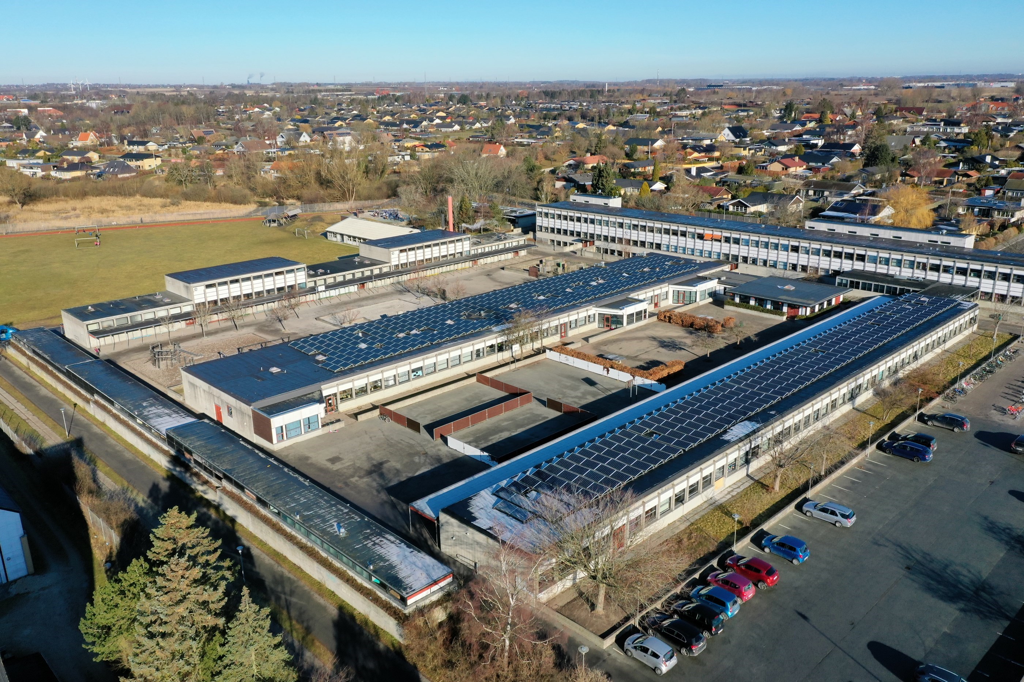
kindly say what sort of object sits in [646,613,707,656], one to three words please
car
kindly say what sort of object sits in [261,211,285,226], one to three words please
gazebo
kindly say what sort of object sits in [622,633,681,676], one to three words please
car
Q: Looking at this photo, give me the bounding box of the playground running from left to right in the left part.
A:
[125,334,282,395]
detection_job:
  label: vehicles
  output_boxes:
[726,553,784,589]
[892,430,942,454]
[762,534,814,566]
[923,412,973,434]
[707,568,760,602]
[801,499,860,529]
[646,613,707,656]
[882,439,935,464]
[1005,432,1024,455]
[622,633,681,676]
[688,581,747,620]
[668,595,732,638]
